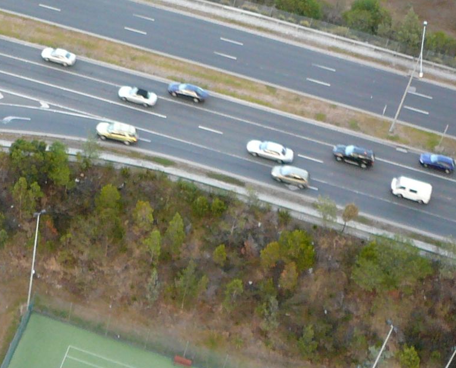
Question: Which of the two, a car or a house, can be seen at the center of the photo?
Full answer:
The one visible at the center of the photo is a car.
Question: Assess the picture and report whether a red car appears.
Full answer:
No, I can't see a single red car in this photo.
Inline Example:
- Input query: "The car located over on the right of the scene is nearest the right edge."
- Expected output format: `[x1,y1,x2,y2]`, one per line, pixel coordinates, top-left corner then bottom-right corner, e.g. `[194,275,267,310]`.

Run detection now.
[417,153,456,175]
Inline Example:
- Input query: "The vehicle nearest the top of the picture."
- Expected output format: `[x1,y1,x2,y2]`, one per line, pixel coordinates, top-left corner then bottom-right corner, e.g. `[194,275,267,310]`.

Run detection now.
[39,47,78,67]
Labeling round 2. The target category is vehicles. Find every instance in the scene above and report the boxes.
[168,84,206,104]
[96,122,137,143]
[269,166,312,190]
[331,145,376,168]
[388,176,435,204]
[39,47,78,67]
[246,141,292,164]
[118,87,157,107]
[417,153,456,175]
